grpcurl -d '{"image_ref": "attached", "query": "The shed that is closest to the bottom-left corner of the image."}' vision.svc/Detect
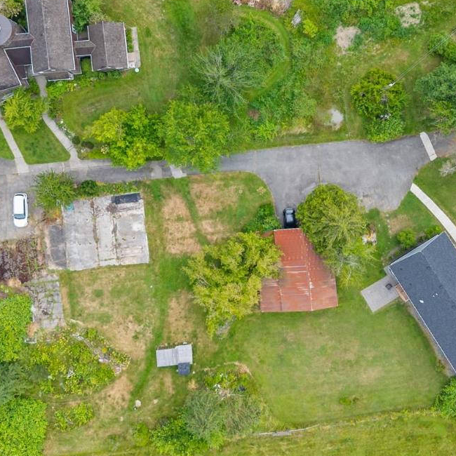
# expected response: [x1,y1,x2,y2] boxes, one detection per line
[157,344,193,368]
